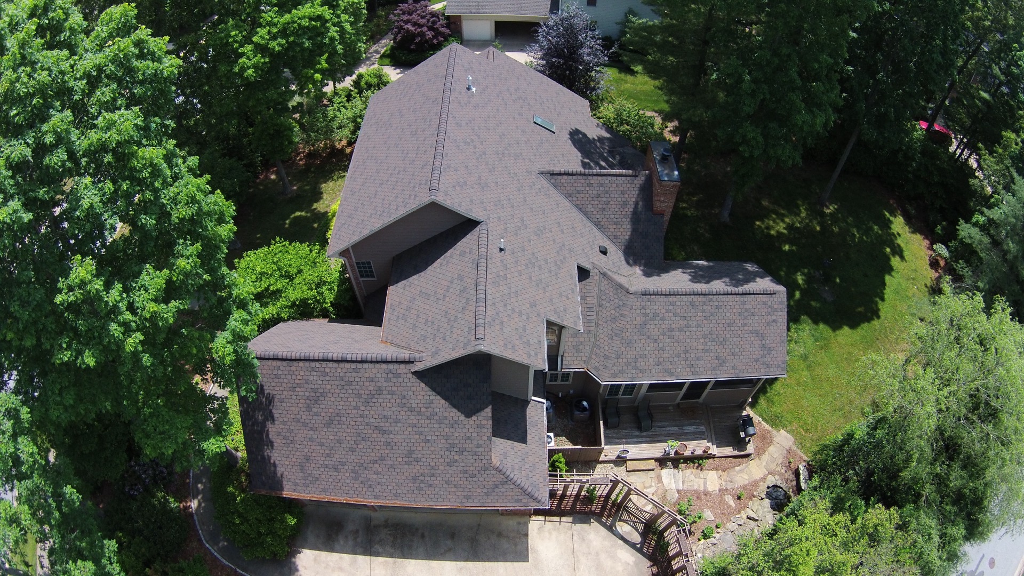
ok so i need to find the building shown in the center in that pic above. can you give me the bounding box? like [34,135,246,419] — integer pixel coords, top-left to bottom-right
[247,43,788,515]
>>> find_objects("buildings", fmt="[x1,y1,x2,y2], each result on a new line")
[247,43,788,515]
[442,0,557,41]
